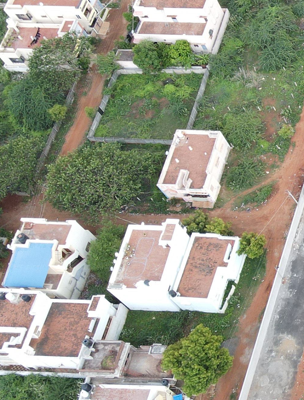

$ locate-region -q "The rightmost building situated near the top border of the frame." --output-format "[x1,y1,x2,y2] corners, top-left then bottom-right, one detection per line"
[135,0,227,53]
